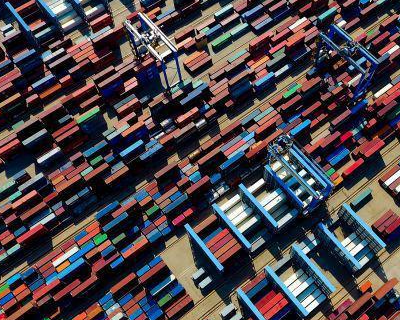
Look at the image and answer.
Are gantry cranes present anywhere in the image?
Yes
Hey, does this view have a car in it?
No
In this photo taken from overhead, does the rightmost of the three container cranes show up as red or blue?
blue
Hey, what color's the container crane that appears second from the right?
blue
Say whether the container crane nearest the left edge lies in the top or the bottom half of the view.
top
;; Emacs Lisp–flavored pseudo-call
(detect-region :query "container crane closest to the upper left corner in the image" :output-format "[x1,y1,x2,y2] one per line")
[123,11,184,93]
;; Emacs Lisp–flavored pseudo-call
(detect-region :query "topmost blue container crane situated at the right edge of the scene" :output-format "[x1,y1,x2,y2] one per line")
[311,22,382,105]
